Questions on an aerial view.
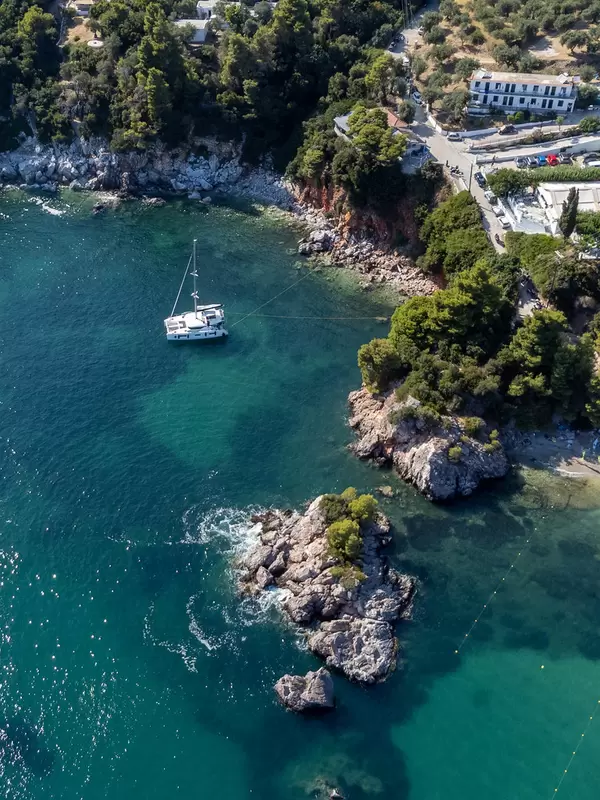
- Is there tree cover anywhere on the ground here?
Yes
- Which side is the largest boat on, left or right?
left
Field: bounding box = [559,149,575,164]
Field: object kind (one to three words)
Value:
car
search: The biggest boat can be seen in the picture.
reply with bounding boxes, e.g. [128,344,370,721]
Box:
[166,237,229,338]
